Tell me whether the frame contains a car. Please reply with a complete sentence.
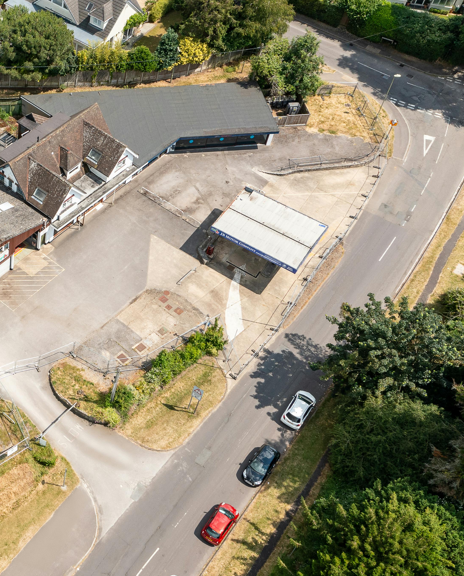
Yes, there's a car down there.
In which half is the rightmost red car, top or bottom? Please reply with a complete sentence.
Seen from above, the rightmost red car lies in the bottom half of the view.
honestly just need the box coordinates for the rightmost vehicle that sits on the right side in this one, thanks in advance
[281,390,315,432]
